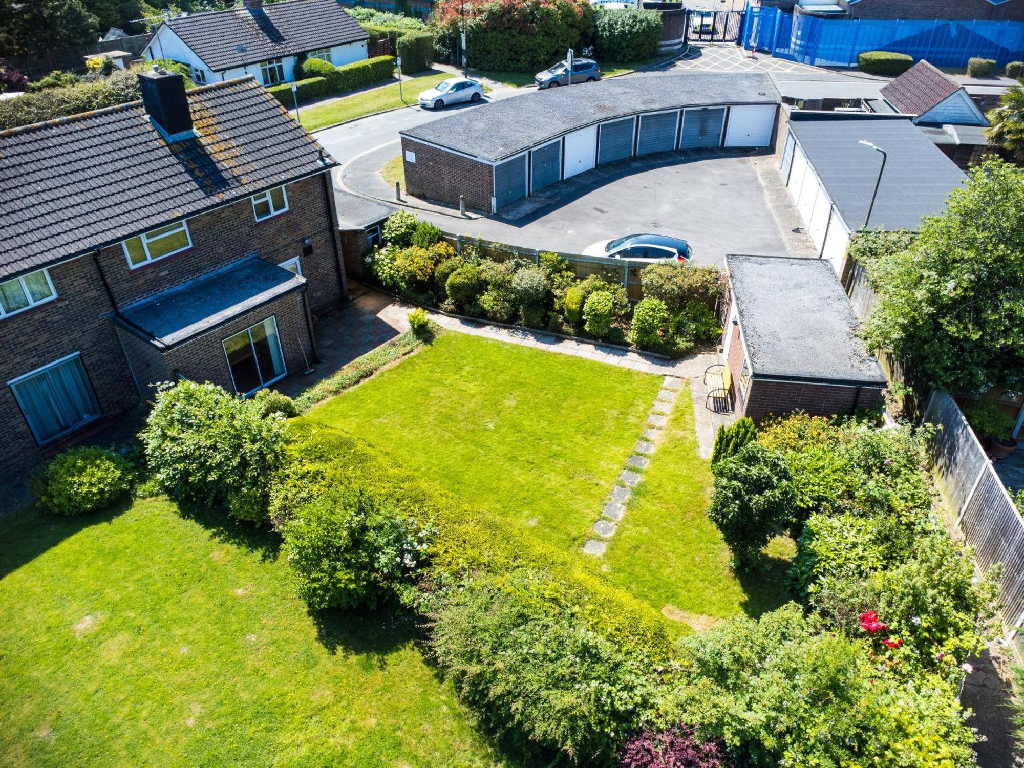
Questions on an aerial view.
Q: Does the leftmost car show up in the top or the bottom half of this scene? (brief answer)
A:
top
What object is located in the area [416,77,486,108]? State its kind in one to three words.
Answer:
car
